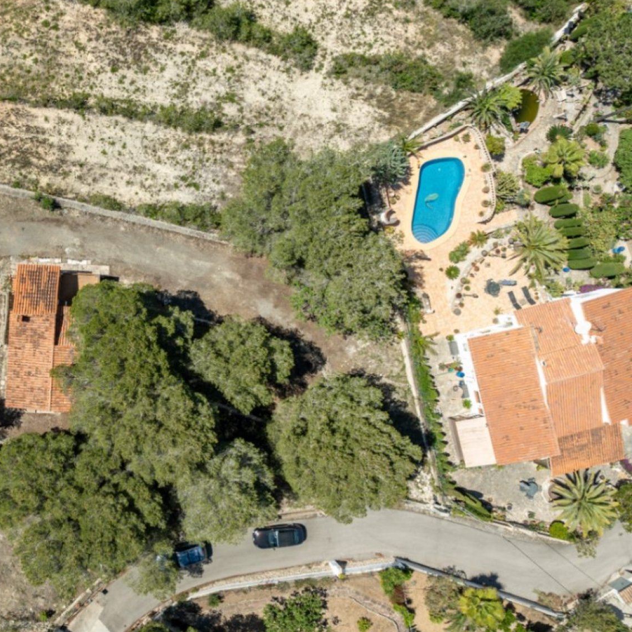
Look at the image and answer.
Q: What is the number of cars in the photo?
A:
2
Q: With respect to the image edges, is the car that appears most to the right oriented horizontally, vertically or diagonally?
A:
horizontally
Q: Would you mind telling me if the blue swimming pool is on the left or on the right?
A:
right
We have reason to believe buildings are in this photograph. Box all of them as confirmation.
[444,277,632,476]
[593,564,632,606]
[5,257,110,414]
